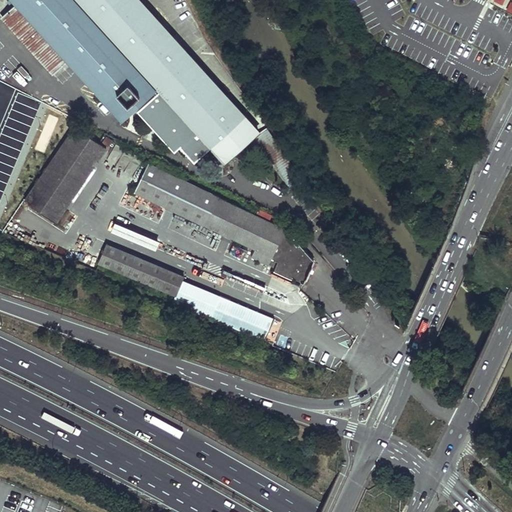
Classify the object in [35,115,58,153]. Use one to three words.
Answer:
building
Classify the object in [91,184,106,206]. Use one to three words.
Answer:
vehicle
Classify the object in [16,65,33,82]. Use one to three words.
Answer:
vehicle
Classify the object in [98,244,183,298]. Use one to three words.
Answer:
shed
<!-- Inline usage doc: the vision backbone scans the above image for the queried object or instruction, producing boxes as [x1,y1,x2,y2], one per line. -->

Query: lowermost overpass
[317,470,367,512]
